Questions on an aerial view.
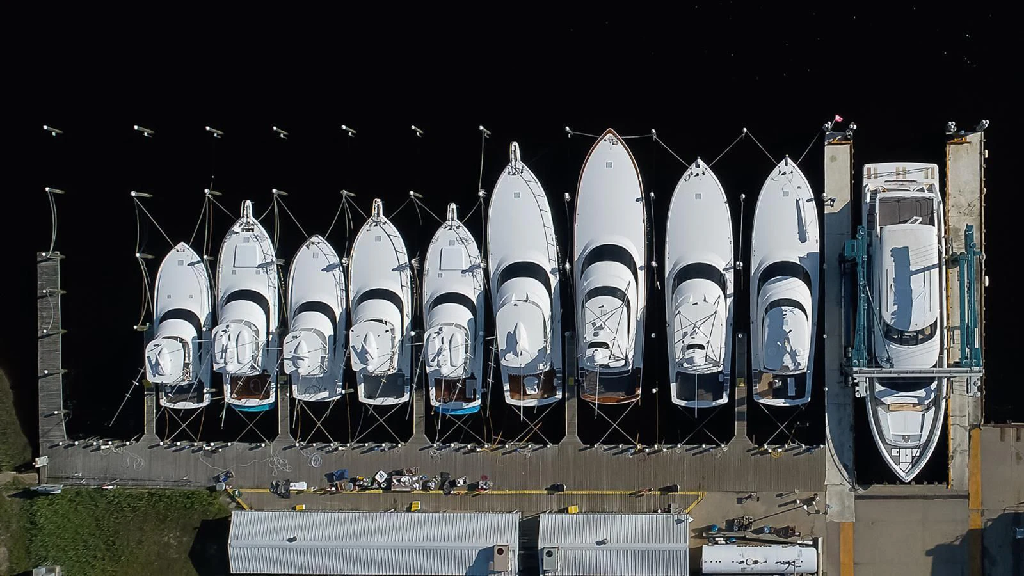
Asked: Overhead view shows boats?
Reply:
Yes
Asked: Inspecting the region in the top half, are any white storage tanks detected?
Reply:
No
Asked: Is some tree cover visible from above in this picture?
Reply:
No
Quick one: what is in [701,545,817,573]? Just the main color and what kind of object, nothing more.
white storage tank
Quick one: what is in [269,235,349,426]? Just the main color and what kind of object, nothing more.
white boat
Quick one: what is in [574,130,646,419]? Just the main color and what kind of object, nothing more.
white boat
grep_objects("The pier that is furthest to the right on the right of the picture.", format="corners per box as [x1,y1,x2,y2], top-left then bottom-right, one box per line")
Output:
[945,133,988,492]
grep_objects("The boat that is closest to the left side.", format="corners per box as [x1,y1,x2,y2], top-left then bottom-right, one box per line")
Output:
[111,242,215,424]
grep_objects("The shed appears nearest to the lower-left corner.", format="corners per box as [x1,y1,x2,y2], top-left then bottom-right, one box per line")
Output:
[224,508,520,575]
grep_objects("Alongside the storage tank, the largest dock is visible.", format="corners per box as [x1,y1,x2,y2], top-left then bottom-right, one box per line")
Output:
[39,443,826,491]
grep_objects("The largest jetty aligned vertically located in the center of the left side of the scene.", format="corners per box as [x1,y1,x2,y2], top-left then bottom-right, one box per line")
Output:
[38,253,68,444]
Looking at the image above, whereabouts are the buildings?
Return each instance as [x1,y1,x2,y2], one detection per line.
[537,511,690,576]
[224,508,520,575]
